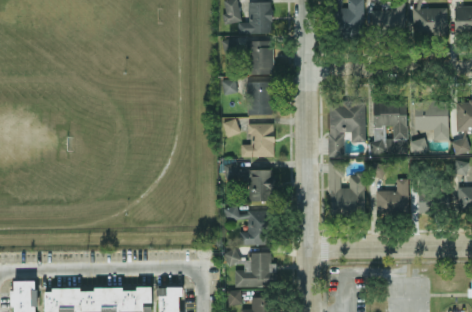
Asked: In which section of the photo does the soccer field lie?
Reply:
left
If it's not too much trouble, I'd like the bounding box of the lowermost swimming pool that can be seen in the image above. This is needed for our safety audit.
[346,162,364,176]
